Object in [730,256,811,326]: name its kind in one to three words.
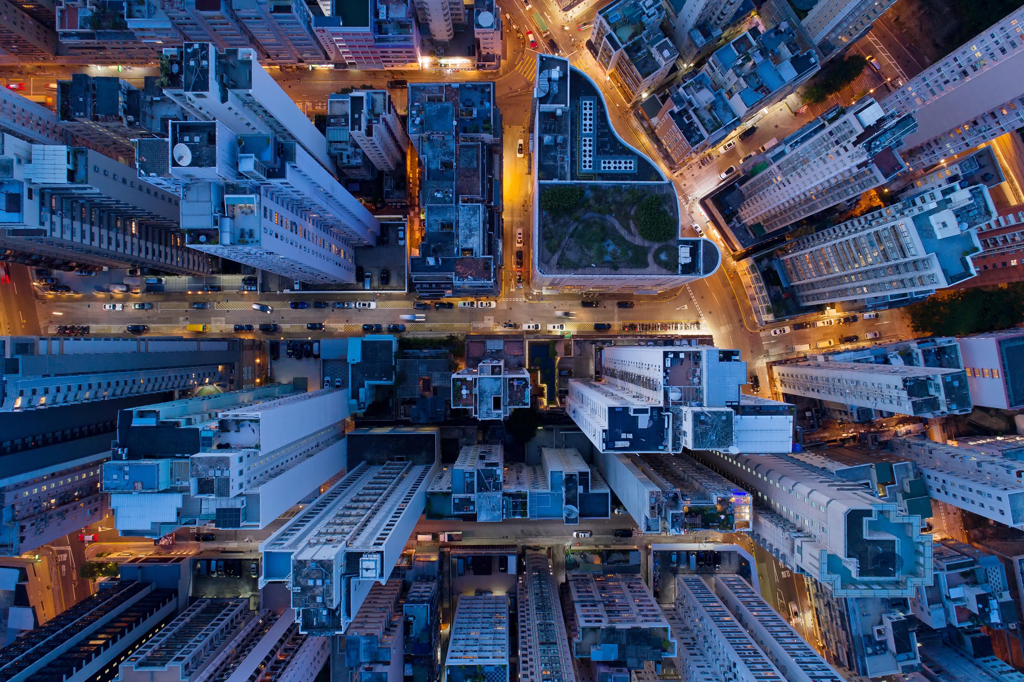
building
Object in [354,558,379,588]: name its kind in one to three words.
water tank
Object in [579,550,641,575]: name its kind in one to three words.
shed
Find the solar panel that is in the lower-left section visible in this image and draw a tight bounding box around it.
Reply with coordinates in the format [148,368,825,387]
[215,508,240,528]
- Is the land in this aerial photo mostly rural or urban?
urban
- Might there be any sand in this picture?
No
